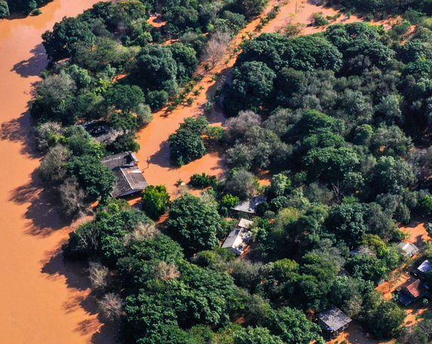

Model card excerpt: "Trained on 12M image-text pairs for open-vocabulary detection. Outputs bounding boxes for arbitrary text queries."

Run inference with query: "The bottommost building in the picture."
[318,307,350,337]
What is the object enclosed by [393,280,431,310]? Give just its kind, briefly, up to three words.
house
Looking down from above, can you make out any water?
Yes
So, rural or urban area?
rural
